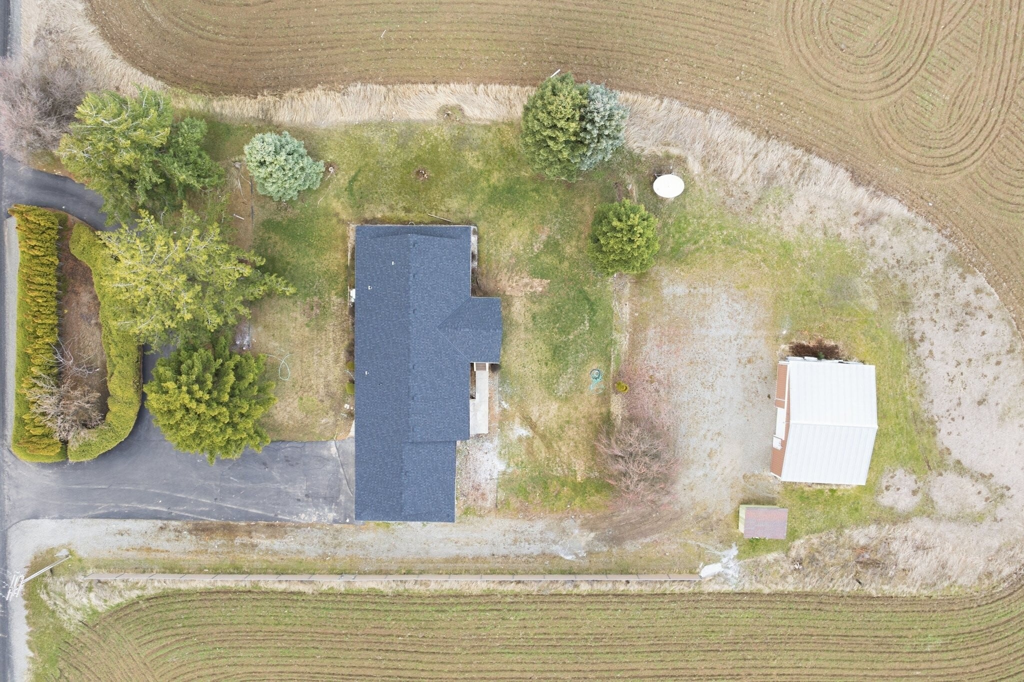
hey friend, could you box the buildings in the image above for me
[770,360,880,486]
[739,505,789,539]
[354,225,502,522]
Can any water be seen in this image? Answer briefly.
No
